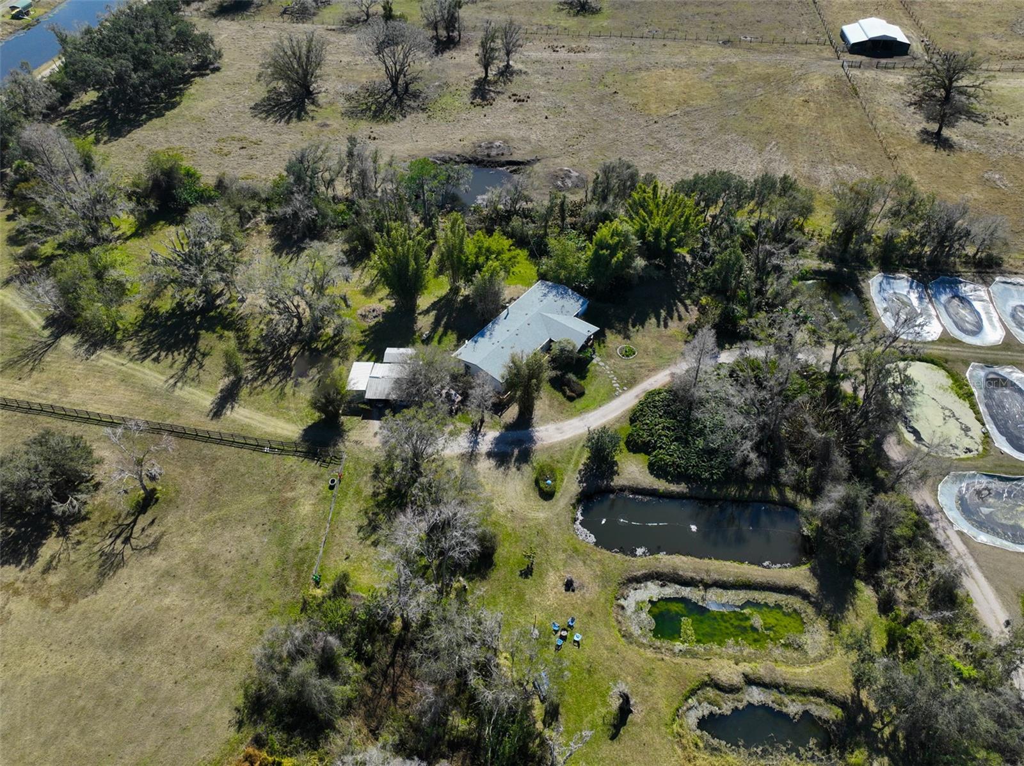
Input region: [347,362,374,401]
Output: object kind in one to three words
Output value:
shed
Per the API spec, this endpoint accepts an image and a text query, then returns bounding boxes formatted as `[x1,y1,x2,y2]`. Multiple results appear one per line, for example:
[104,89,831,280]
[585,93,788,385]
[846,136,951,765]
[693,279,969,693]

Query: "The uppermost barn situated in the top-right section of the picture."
[840,18,914,55]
